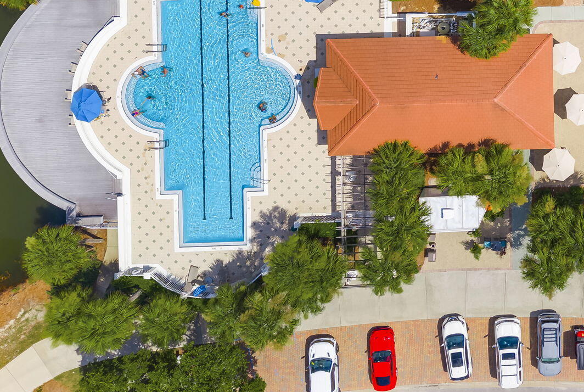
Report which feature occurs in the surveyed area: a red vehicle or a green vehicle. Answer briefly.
red vehicle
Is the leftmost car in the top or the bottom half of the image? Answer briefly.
bottom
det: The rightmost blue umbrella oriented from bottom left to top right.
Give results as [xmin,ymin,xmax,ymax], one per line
[198,277,216,293]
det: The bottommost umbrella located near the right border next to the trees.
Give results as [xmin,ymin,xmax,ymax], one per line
[542,147,575,180]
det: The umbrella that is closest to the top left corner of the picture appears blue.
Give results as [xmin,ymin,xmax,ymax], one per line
[74,88,110,120]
